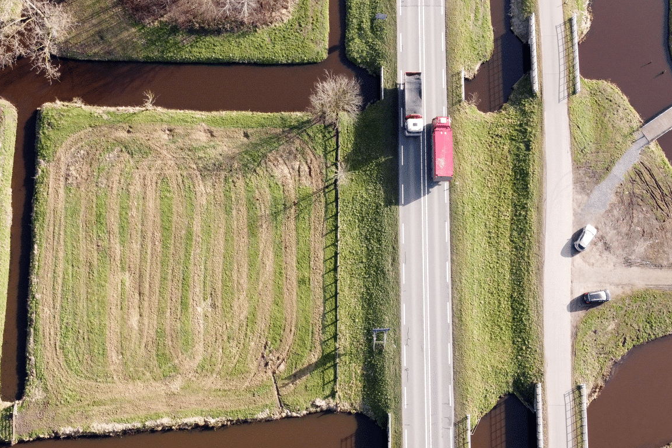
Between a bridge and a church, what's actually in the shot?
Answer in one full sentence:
The one in the frame is a bridge.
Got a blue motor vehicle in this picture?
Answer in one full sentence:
No, I find no blue motor vehicle anywhere in the image.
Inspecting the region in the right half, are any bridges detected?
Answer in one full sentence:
Yes, a bridge appears in the right half.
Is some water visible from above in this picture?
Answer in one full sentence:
Yes, water shows up in the scene.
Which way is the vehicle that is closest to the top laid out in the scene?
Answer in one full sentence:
The vehicle that is closest to the top is oriented vertically.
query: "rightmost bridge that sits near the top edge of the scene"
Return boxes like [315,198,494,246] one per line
[524,11,582,103]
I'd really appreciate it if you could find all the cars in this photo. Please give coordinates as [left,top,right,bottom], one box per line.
[581,289,612,305]
[574,224,597,251]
